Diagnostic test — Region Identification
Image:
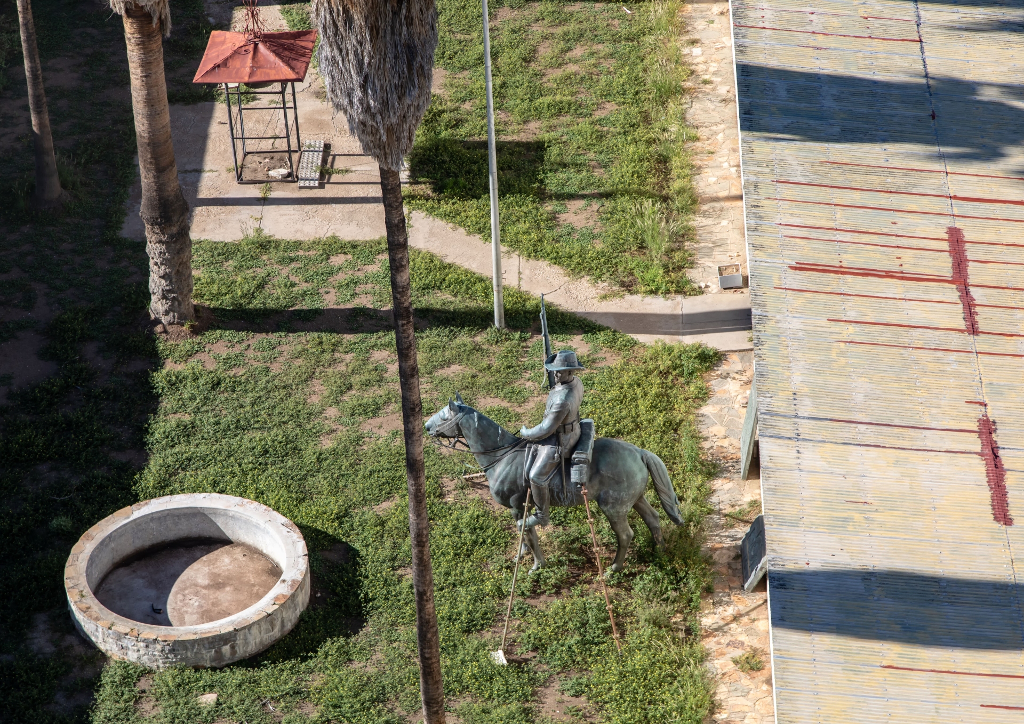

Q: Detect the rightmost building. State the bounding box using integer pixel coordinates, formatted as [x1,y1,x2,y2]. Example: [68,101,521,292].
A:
[726,0,1024,724]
